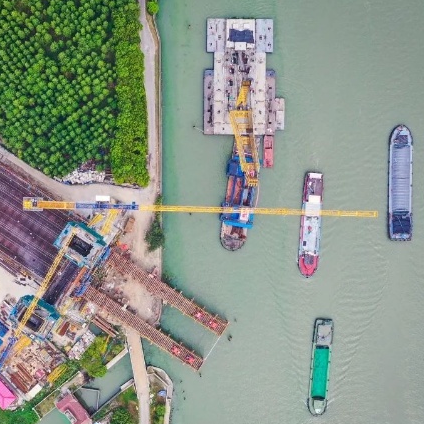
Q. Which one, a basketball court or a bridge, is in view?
bridge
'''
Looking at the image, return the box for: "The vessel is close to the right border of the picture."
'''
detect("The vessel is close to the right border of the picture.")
[388,124,413,241]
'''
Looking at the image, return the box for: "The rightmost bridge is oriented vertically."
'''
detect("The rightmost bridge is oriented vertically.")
[125,332,150,399]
